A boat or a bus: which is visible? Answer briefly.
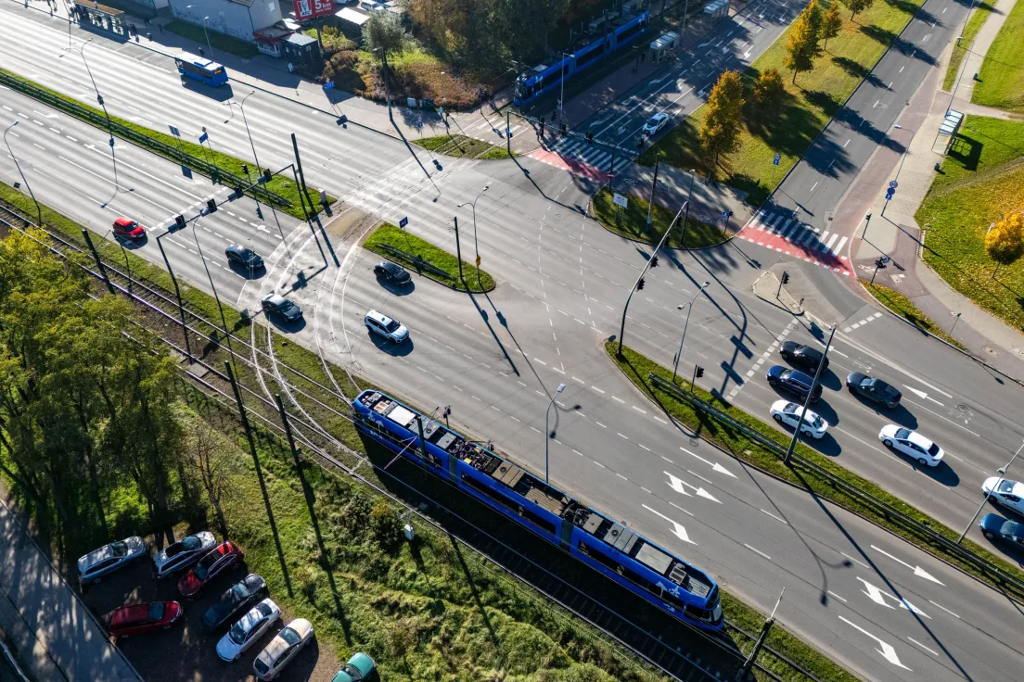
bus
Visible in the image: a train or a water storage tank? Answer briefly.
train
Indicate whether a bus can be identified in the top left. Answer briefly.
Yes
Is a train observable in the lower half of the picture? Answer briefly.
Yes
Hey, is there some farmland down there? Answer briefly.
No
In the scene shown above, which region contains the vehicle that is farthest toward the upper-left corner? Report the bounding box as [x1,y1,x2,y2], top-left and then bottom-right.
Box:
[172,49,229,85]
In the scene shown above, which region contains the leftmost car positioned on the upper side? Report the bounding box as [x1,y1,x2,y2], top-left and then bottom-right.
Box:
[112,218,145,241]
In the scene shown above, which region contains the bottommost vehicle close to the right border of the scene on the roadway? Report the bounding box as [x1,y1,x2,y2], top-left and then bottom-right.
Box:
[975,512,1024,557]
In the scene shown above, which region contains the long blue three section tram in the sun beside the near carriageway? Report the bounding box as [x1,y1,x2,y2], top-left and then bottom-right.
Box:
[358,393,726,637]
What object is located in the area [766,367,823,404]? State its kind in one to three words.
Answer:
car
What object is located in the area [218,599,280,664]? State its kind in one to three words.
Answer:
car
